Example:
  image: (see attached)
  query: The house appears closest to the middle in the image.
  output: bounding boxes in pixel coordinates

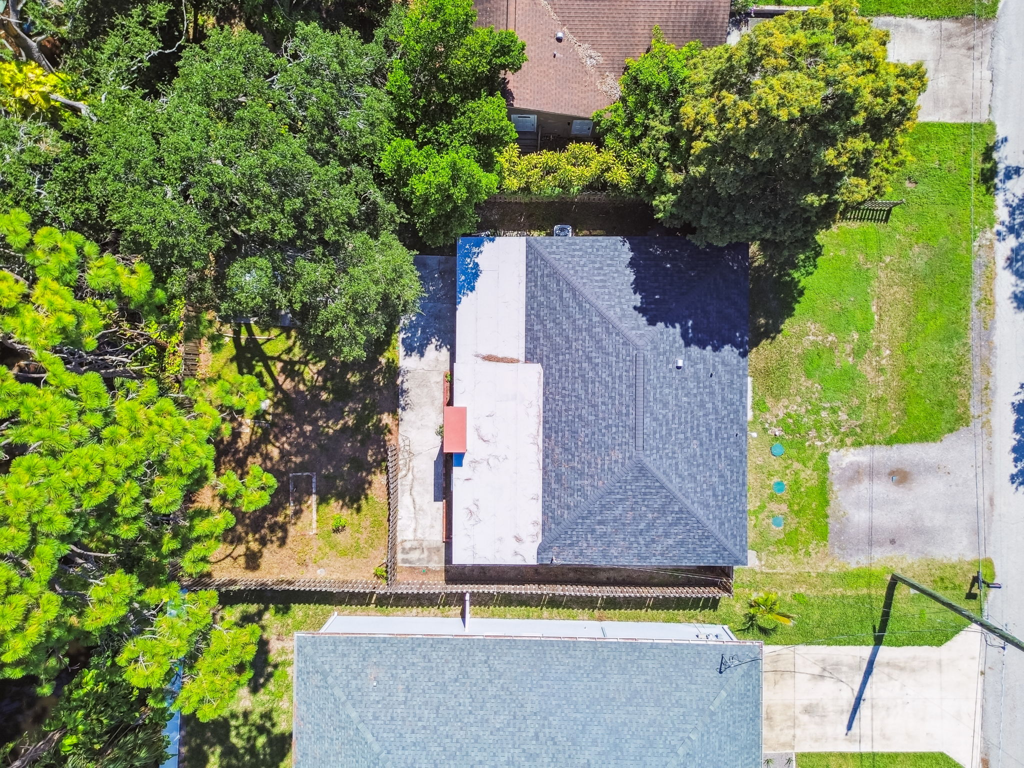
[443,234,756,568]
